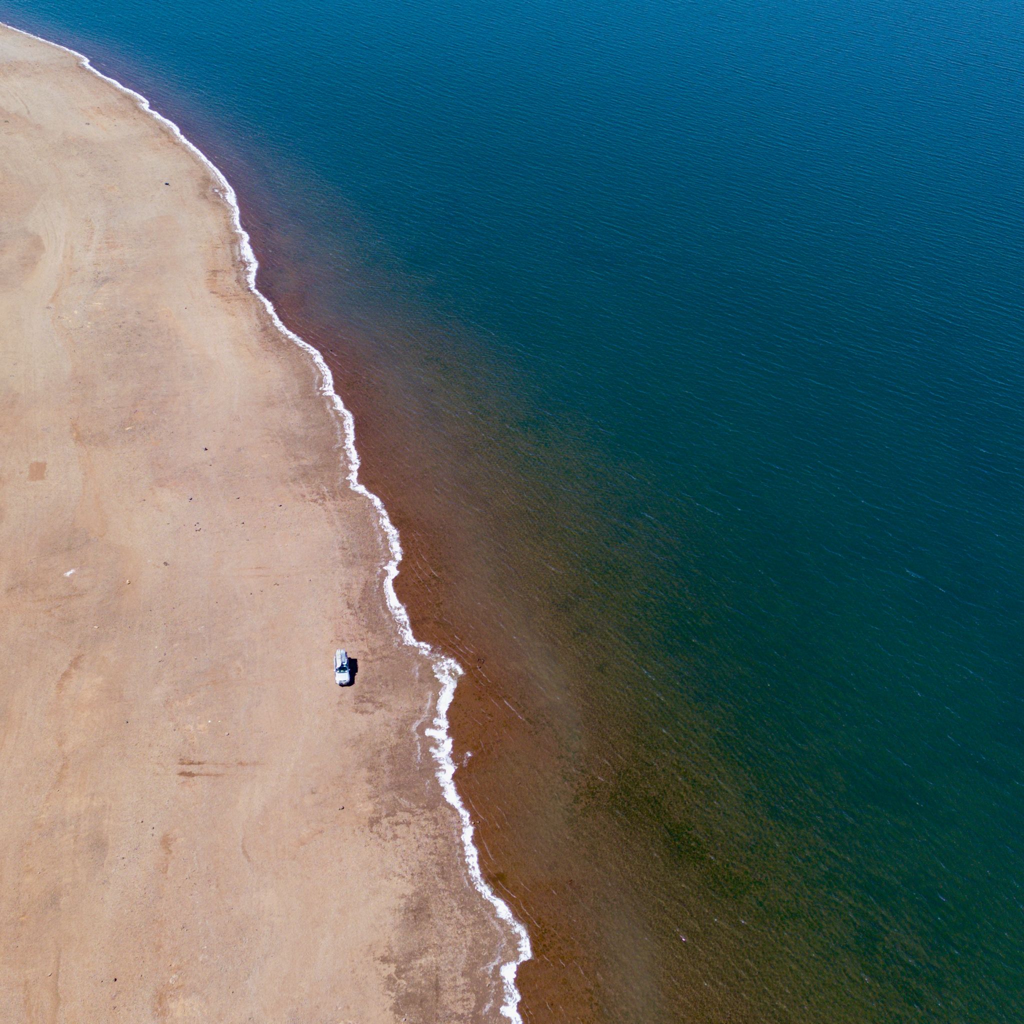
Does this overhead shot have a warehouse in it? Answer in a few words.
No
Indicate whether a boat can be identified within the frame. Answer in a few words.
No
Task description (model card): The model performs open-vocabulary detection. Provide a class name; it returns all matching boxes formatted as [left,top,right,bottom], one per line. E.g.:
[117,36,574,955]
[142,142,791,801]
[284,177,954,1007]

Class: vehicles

[334,650,351,686]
